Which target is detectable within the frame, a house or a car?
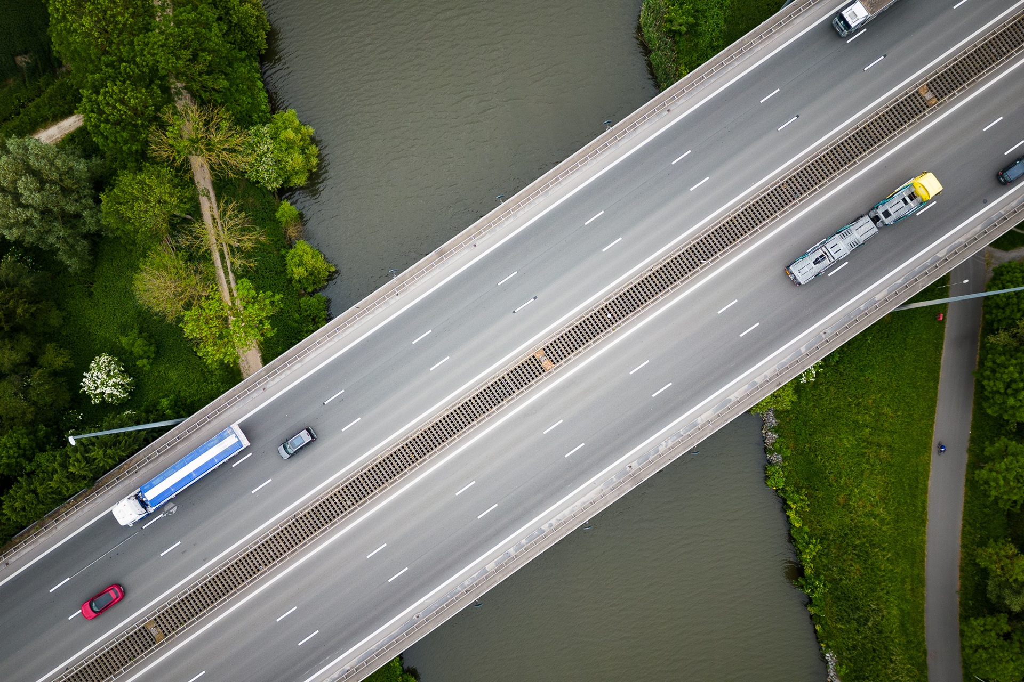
car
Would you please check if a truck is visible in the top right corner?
Yes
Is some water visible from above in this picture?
Yes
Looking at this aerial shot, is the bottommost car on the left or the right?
left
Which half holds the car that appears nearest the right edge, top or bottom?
top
